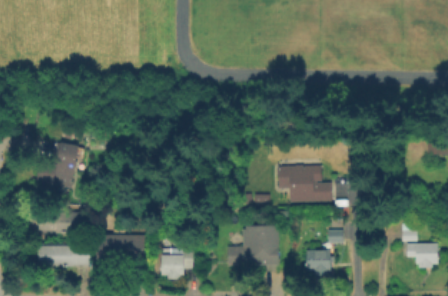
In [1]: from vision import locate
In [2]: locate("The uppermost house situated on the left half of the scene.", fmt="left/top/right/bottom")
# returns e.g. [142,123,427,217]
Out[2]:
[54,142,82,189]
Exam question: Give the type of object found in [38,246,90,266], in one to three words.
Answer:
house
